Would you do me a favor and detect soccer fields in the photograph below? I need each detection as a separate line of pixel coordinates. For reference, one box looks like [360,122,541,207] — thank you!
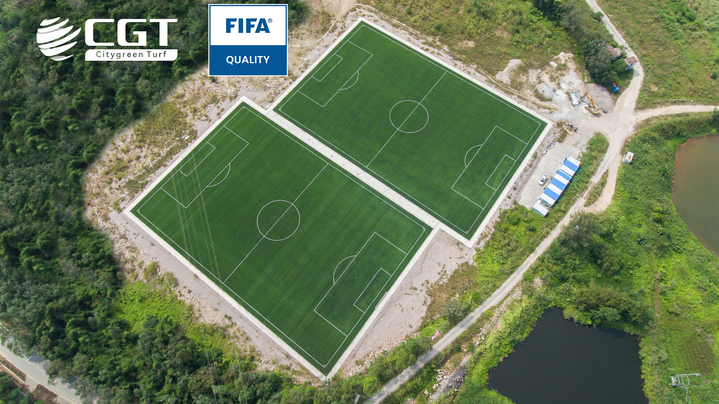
[267,17,553,247]
[124,96,440,384]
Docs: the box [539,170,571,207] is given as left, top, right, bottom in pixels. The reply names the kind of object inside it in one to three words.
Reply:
building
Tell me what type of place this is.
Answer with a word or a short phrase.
sports ground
